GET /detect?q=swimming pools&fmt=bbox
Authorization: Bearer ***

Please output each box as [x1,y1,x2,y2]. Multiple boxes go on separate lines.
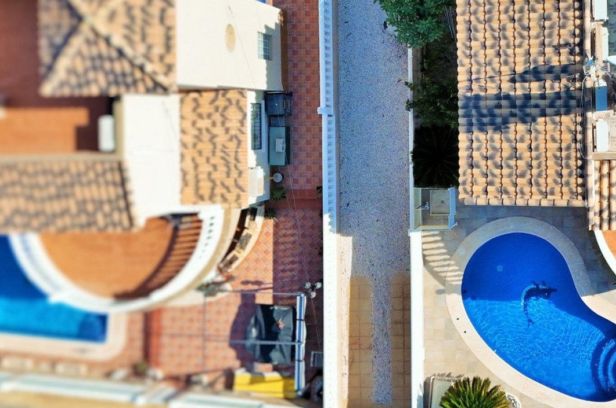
[445,217,616,408]
[0,232,123,359]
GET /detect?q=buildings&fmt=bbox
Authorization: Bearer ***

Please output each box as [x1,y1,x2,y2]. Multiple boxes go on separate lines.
[0,0,282,324]
[456,0,616,275]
